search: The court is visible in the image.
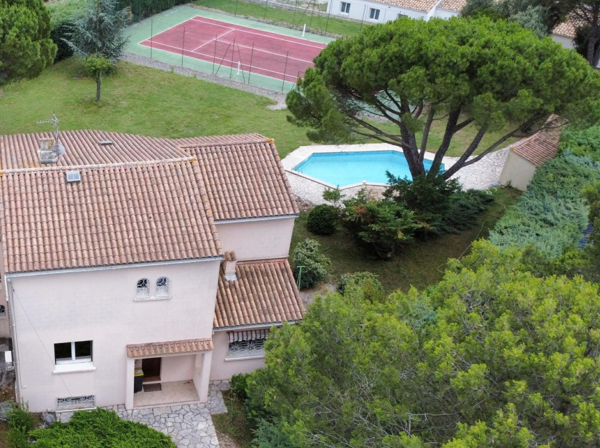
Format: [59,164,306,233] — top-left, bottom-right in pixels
[111,3,487,131]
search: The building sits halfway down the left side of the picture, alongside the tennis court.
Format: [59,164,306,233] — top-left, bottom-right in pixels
[0,129,306,412]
